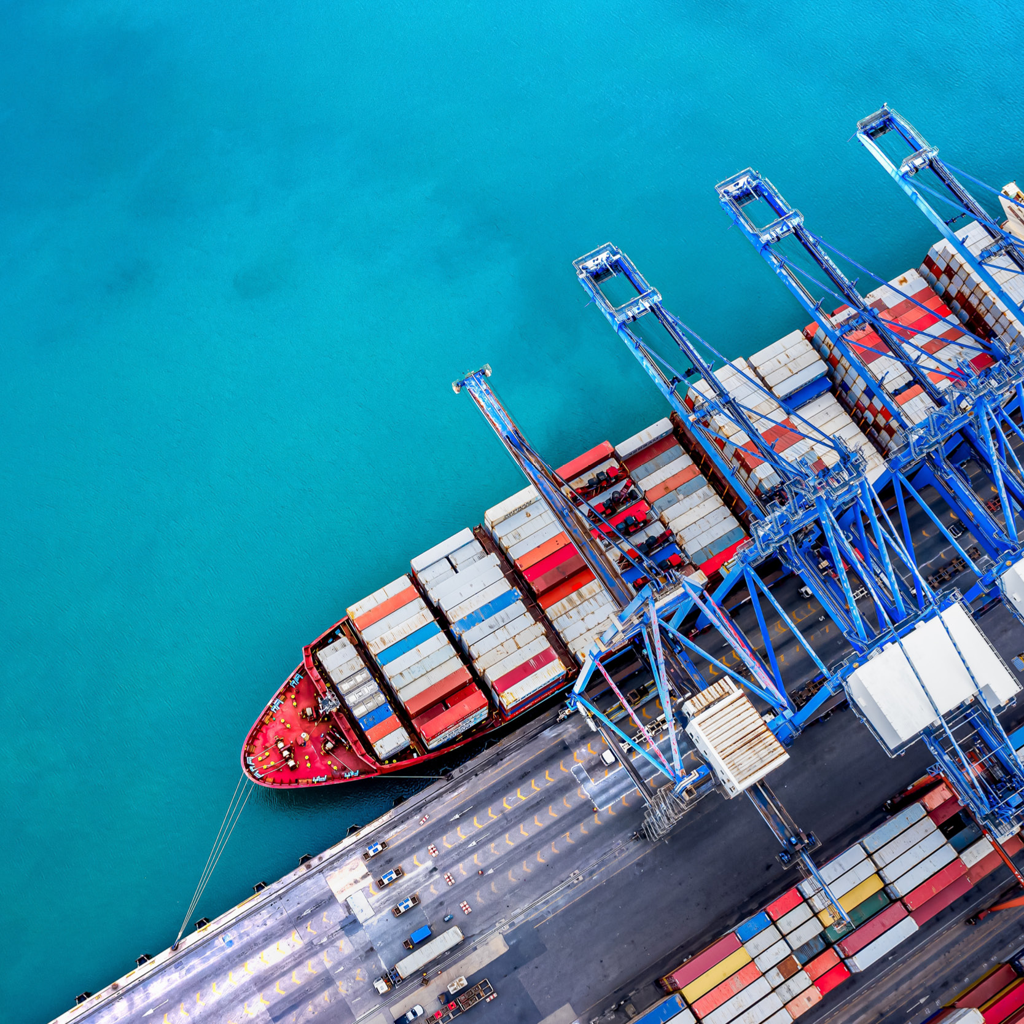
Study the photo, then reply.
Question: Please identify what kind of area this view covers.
port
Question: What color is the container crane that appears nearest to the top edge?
blue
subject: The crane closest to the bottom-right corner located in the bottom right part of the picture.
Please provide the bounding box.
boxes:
[880,752,1024,933]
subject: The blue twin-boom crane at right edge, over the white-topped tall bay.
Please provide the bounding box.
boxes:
[850,99,1024,340]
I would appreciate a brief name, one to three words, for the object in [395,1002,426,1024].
truck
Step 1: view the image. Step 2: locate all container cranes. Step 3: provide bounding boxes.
[436,361,884,983]
[850,99,1024,340]
[712,162,1024,636]
[569,236,1024,862]
[880,752,1024,933]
